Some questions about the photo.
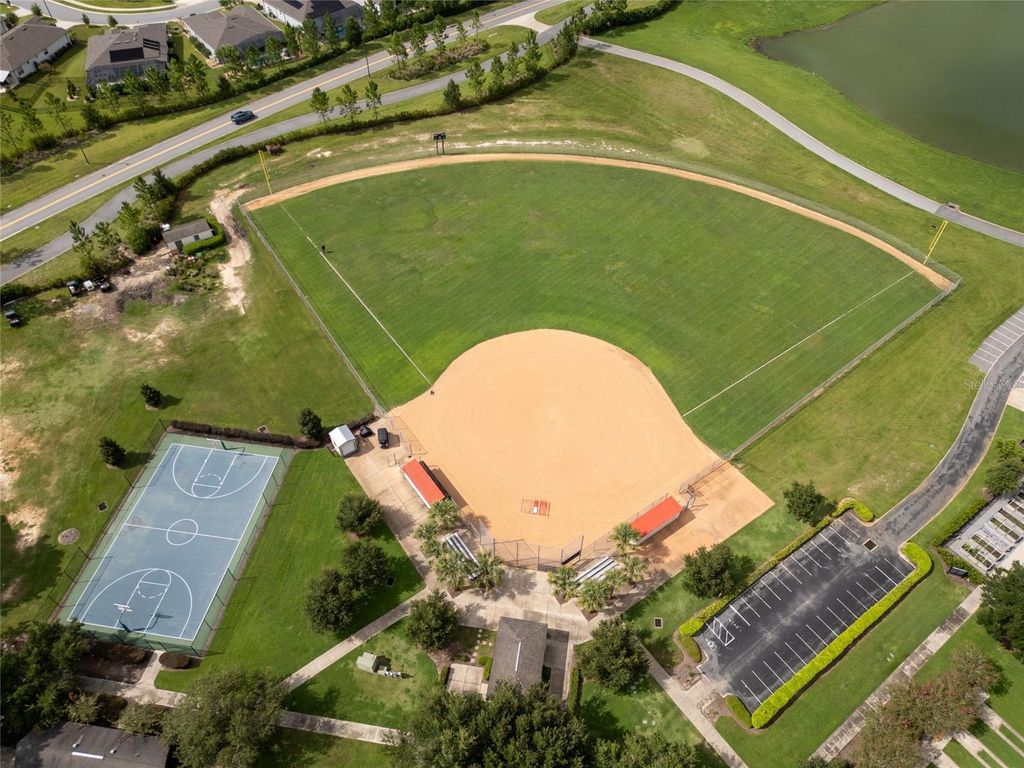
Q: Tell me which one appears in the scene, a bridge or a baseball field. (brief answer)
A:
baseball field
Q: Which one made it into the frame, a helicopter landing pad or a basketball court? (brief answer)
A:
basketball court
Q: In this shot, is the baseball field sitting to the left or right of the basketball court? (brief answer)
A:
on its right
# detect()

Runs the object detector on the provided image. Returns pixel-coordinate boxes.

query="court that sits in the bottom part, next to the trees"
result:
[43,432,295,658]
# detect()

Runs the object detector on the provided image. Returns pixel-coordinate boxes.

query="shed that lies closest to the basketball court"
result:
[329,425,357,457]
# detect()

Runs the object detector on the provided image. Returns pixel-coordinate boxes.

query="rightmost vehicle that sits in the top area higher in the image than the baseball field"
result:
[231,112,254,125]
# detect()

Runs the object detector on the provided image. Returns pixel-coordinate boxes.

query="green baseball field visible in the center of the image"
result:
[242,154,957,583]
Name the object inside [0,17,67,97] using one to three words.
house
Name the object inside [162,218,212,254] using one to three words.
shed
